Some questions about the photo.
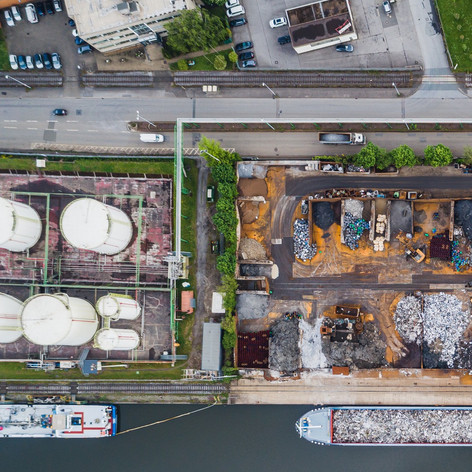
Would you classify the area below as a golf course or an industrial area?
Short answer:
industrial area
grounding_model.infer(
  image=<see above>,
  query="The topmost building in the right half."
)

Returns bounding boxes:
[285,0,357,53]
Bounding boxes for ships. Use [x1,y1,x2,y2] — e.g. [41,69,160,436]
[0,405,121,438]
[296,406,472,446]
